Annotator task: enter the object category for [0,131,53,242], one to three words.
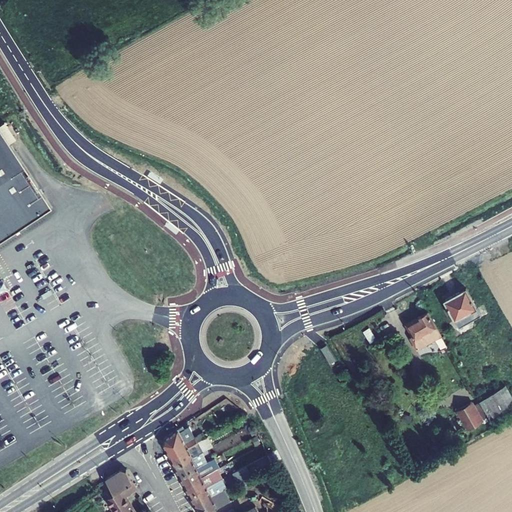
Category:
building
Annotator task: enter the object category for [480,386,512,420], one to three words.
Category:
barn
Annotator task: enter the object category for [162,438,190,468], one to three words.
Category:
house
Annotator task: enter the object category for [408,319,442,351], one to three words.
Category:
house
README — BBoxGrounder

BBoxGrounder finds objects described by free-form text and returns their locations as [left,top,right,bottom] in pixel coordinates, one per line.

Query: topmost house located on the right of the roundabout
[444,291,478,324]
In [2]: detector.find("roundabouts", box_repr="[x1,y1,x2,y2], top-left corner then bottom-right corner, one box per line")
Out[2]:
[171,276,283,396]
